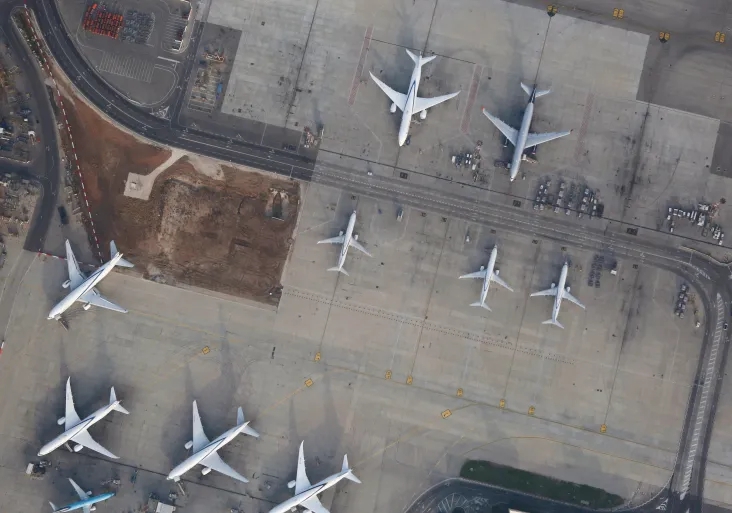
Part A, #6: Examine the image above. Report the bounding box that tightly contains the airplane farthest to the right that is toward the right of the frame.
[530,263,586,327]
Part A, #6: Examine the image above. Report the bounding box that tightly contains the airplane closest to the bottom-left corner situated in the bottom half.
[49,479,114,513]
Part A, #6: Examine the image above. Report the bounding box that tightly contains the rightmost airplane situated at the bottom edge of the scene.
[279,447,360,513]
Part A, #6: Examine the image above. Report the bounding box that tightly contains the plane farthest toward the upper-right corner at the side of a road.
[481,84,573,181]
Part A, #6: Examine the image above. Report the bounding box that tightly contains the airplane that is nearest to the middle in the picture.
[317,211,372,274]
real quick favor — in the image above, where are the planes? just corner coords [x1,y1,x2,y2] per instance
[48,239,133,319]
[167,399,258,480]
[38,377,129,458]
[317,211,372,274]
[459,246,515,309]
[279,447,360,513]
[530,263,586,327]
[369,50,460,146]
[481,84,573,181]
[49,479,114,513]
